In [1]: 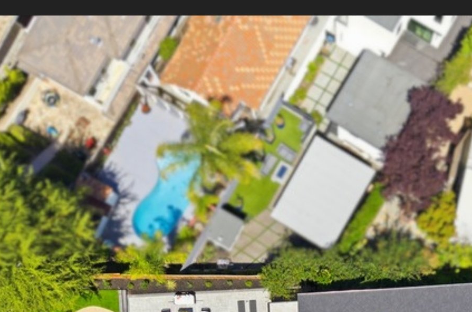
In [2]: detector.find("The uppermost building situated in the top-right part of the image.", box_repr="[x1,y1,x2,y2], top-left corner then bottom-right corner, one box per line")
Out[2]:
[335,15,458,66]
